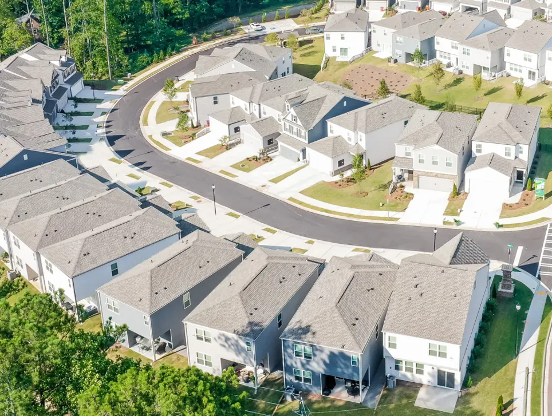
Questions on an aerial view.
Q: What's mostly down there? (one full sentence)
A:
The largest share of the image is taken up by buildings.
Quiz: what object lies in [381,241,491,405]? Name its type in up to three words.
house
